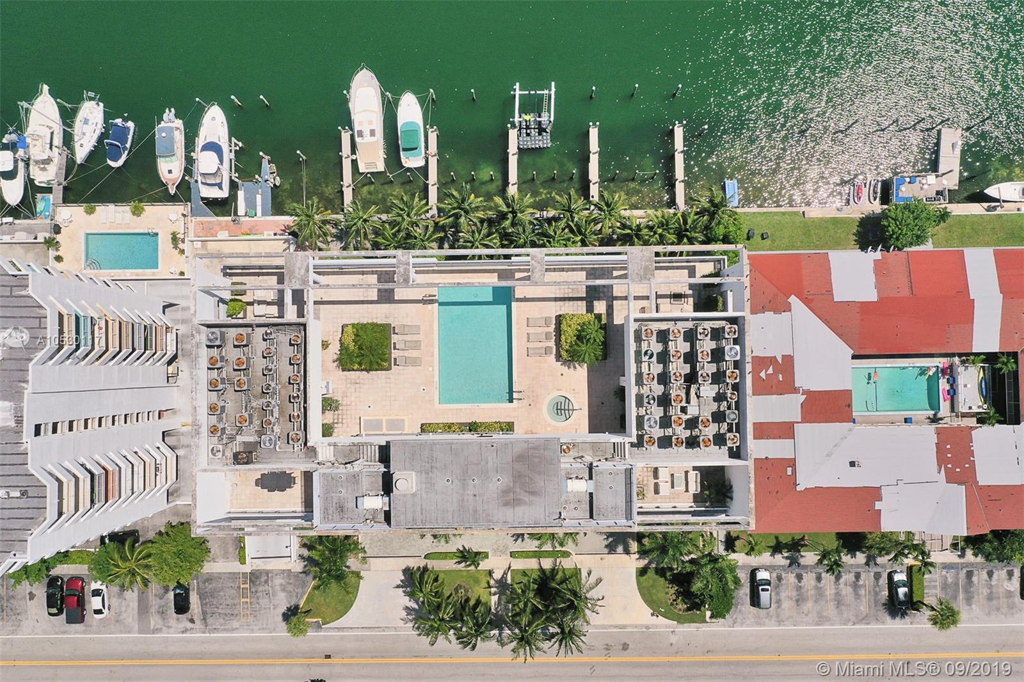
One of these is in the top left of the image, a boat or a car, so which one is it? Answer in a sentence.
What appears in the top left of the image is a boat.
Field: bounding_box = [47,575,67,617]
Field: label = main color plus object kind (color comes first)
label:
black car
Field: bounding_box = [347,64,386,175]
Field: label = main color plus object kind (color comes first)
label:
white boat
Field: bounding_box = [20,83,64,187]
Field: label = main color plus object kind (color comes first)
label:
white boat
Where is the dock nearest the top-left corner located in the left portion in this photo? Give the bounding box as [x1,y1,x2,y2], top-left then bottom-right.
[53,150,68,205]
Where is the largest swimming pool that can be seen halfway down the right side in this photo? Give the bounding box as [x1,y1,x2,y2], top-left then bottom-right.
[852,361,942,415]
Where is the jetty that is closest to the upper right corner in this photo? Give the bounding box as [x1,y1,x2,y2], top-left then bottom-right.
[937,128,961,190]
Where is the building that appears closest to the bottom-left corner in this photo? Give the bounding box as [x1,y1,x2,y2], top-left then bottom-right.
[0,255,181,582]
